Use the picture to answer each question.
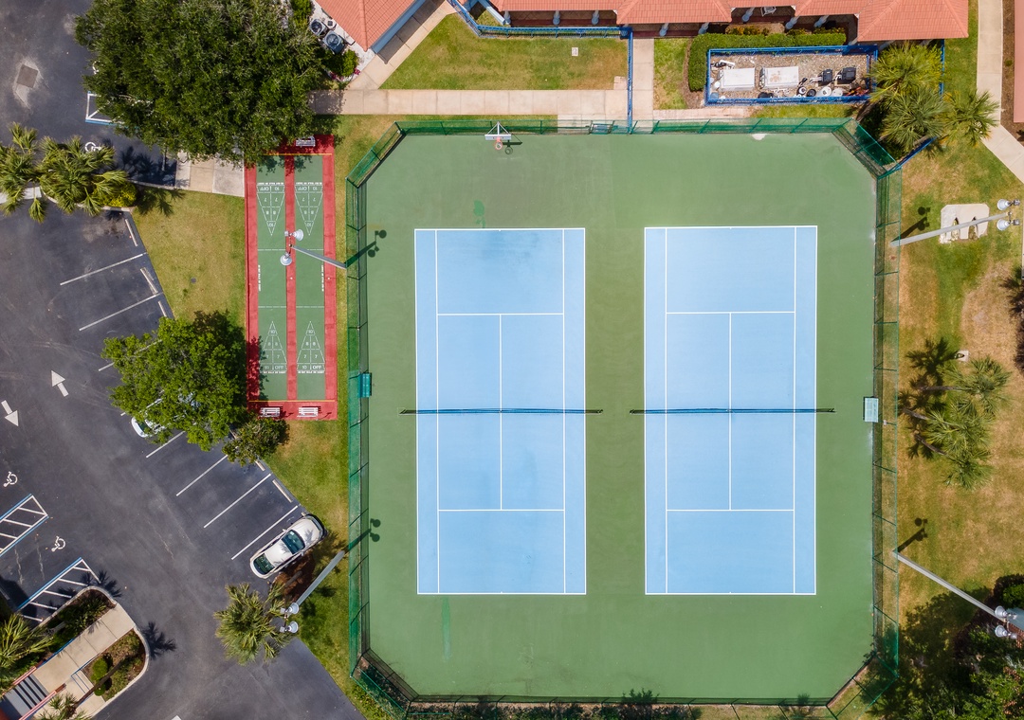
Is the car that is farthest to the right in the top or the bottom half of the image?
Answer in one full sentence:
The bottom half of the photo is where the car that is farthest to the right is.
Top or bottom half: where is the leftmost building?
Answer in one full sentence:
Seen from above, the leftmost building lies in the top half of the view.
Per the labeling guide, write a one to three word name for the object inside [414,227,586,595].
tennis court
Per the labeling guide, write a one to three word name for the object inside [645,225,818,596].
tennis court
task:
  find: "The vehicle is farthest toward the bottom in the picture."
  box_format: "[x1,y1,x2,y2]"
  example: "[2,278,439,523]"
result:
[254,517,326,579]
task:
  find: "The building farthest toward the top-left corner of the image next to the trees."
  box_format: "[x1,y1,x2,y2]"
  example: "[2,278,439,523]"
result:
[315,0,421,51]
